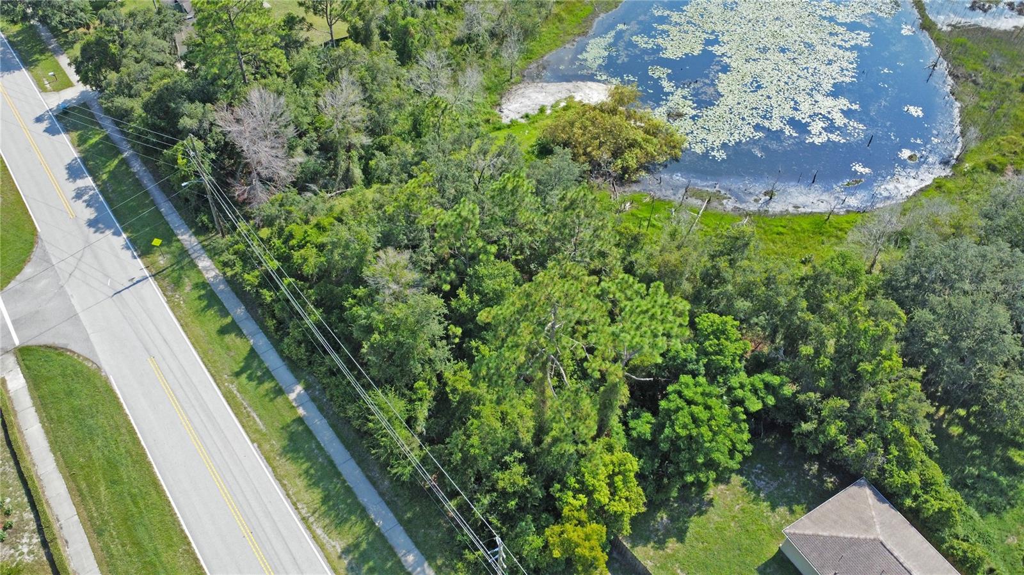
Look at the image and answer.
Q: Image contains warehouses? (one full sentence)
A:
No, no warehouse is visible in the scene.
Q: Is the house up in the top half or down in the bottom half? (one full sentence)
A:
Seen from above, the house lies in the bottom half of the view.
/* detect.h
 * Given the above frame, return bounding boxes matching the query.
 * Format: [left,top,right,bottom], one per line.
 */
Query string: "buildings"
[781,477,970,575]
